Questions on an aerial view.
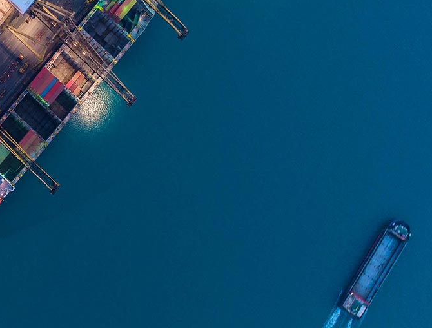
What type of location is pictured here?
port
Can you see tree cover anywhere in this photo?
No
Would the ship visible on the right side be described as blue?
Yes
